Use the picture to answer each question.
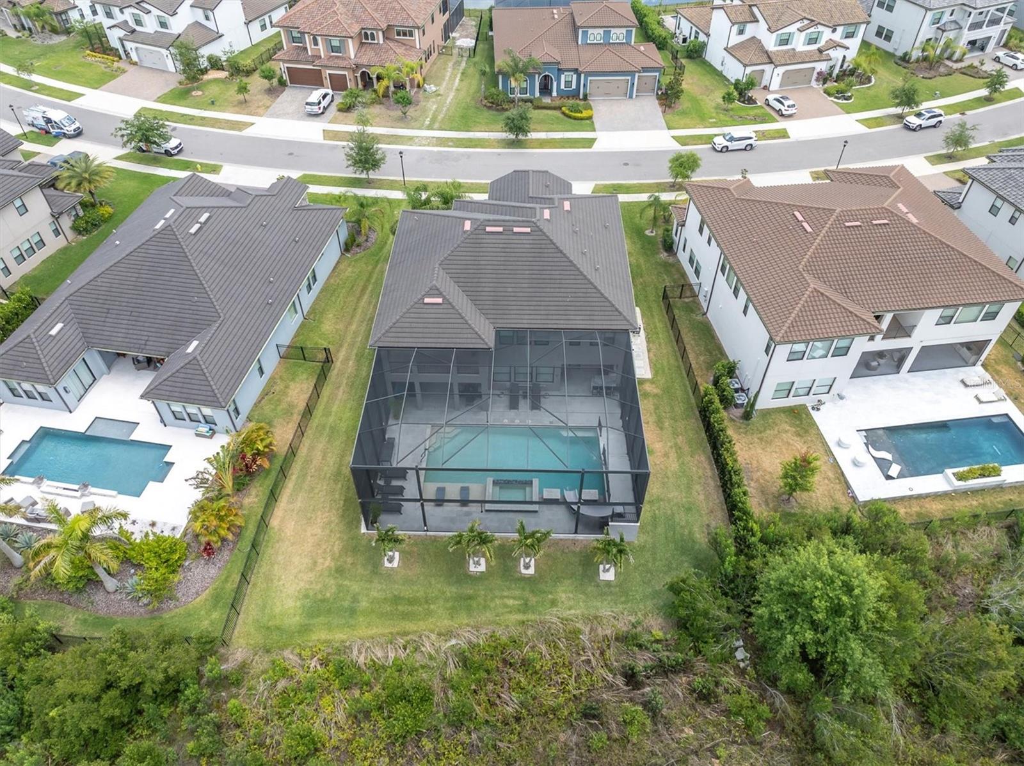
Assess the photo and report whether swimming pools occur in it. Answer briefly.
Yes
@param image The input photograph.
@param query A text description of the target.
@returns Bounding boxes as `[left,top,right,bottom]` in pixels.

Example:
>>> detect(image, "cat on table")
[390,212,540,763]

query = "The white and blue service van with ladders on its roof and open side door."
[22,100,80,138]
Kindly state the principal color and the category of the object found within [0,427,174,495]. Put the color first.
blue swimming pool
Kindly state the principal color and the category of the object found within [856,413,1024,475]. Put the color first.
blue swimming pool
